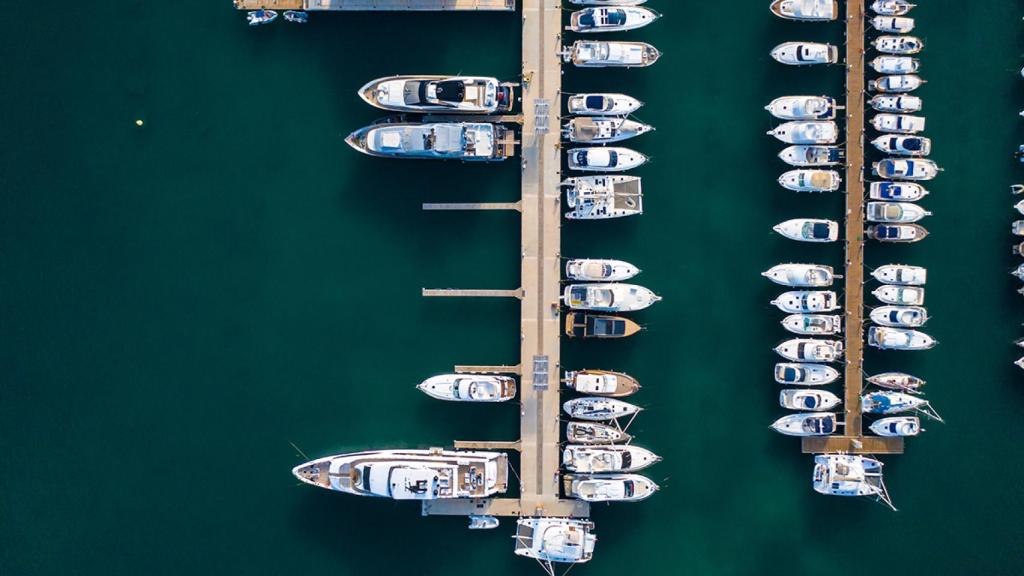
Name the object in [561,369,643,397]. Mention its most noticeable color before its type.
white boat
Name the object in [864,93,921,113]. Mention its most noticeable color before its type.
white boat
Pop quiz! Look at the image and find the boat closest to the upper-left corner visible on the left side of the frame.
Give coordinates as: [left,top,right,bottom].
[247,11,277,25]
